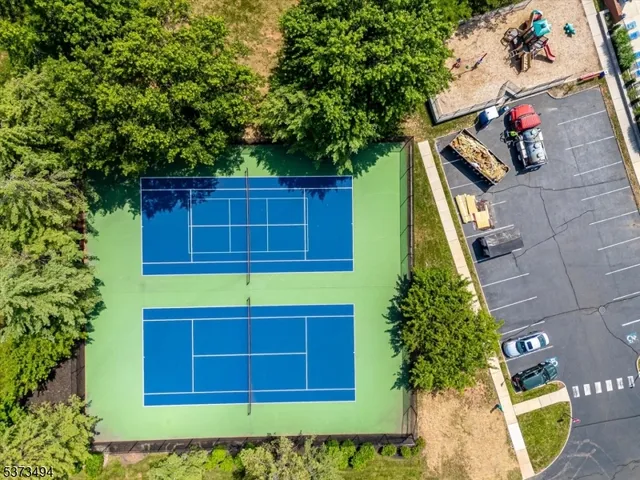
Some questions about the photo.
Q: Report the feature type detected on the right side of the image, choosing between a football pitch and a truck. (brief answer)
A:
truck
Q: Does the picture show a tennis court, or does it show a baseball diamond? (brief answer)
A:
tennis court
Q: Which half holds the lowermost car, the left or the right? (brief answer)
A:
right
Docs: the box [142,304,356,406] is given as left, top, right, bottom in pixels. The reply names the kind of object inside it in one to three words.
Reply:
tennis court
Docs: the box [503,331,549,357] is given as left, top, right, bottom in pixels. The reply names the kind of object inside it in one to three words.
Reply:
car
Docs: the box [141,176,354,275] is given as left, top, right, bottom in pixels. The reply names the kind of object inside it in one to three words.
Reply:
tennis court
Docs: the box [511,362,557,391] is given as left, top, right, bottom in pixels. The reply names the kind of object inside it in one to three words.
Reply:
car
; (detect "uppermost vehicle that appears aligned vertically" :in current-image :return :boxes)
[510,104,549,170]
